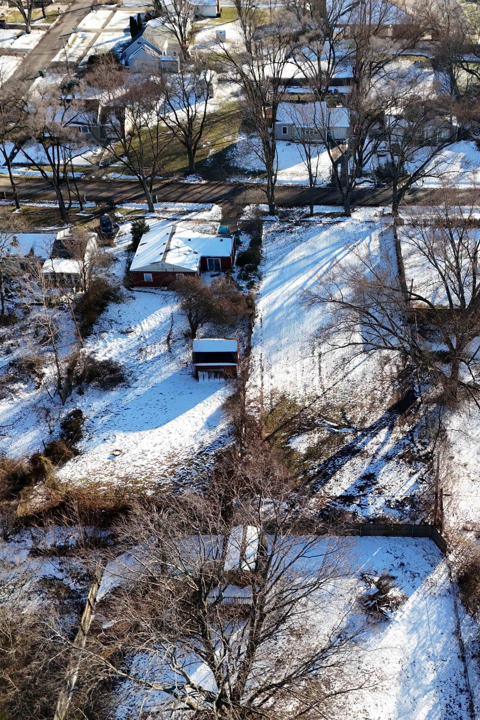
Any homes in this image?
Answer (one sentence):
Yes, there's a home down there.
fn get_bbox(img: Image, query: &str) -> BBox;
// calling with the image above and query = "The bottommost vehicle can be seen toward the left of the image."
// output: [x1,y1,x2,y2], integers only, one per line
[96,217,116,239]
